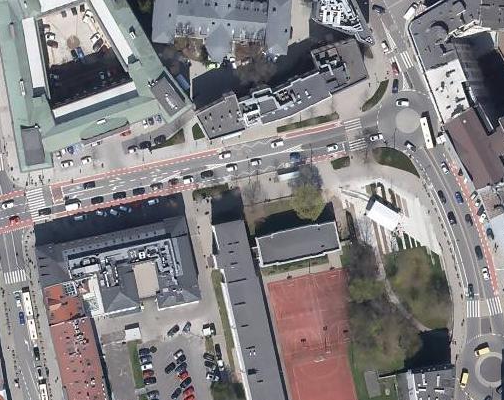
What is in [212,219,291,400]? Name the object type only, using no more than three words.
building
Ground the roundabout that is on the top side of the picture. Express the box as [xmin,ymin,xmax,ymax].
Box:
[378,91,436,150]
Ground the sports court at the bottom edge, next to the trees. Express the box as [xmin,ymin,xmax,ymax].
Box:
[267,270,359,400]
